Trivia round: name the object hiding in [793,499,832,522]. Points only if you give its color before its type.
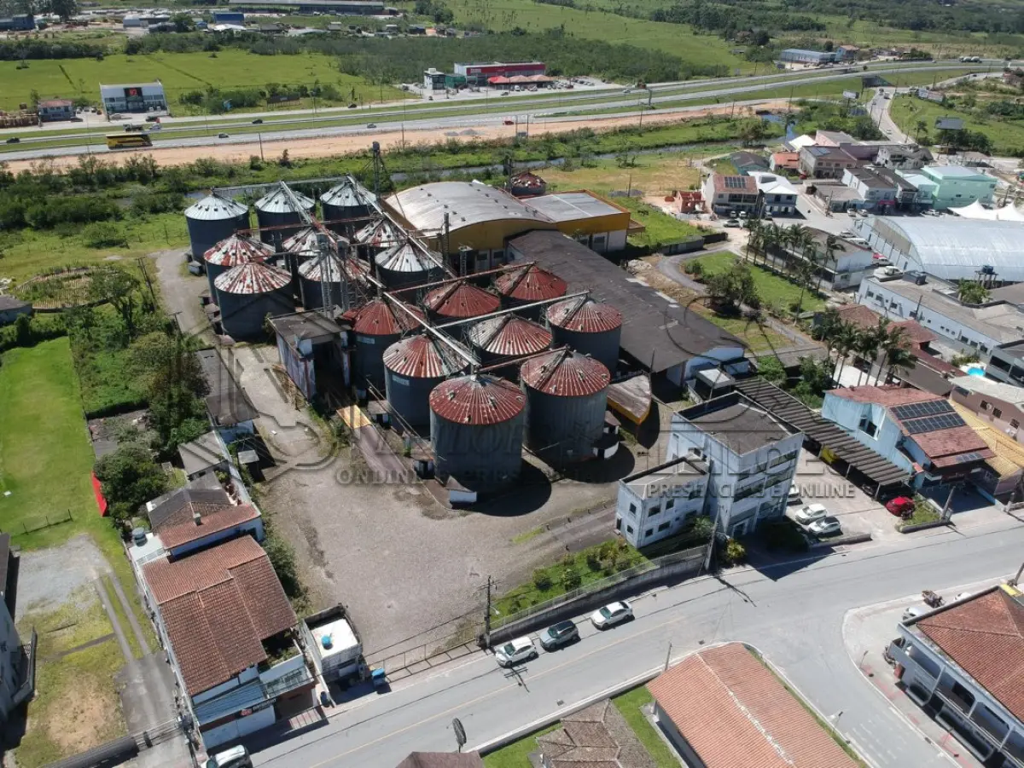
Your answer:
white car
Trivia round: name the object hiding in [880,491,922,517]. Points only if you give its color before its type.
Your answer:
red car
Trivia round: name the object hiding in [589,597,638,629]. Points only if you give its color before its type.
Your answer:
white car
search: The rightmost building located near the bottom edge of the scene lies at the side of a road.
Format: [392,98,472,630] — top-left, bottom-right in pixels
[875,575,1024,768]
